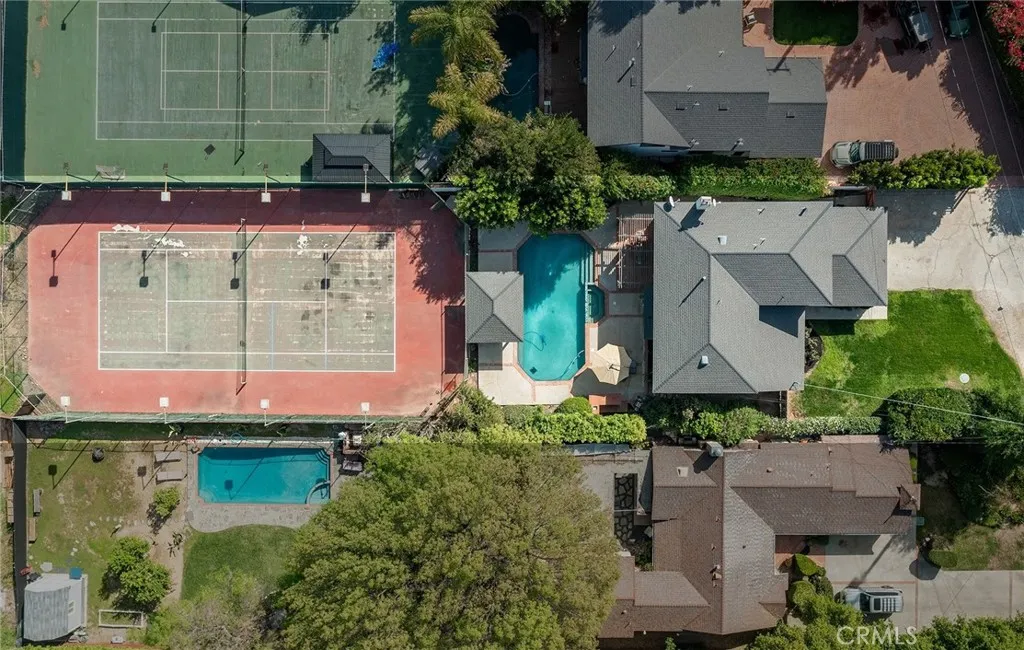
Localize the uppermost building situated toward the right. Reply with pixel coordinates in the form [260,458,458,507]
[587,0,826,159]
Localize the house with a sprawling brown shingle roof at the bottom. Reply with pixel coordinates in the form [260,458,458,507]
[592,438,920,638]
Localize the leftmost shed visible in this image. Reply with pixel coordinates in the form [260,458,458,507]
[24,574,88,640]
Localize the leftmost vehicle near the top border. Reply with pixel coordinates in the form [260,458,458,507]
[885,0,927,47]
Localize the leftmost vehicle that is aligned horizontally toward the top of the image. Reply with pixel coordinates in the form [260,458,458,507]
[828,137,900,169]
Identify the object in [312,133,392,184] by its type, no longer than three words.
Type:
building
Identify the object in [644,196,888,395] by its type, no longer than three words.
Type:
house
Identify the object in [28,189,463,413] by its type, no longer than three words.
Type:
tennis court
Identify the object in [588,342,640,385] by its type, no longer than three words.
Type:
umbrella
